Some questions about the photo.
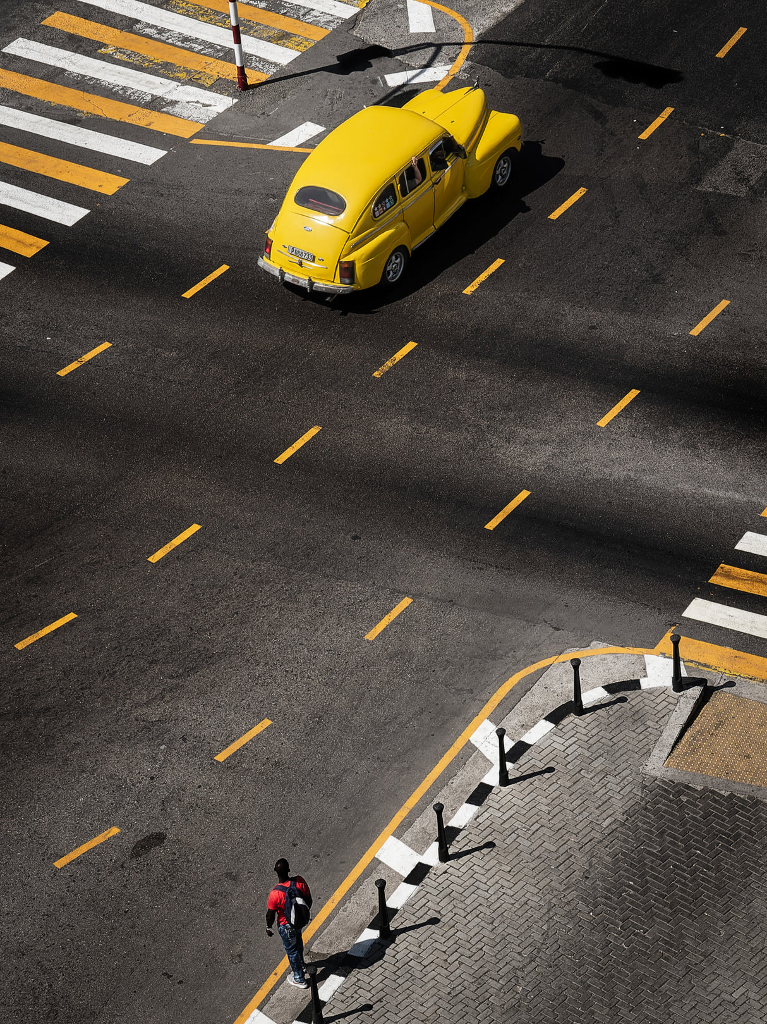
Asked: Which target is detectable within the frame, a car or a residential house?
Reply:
car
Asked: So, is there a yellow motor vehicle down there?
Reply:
Yes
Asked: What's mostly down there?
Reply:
paved ground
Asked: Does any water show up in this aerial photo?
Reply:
No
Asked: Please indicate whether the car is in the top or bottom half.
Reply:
top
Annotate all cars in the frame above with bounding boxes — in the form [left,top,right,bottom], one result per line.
[255,75,529,306]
